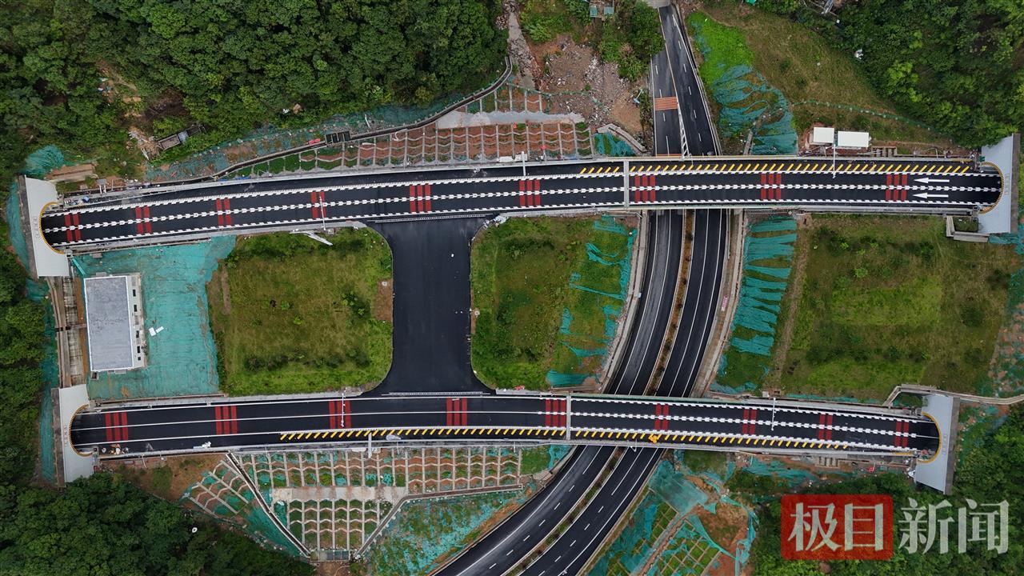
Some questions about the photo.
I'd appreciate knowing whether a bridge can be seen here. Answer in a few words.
Yes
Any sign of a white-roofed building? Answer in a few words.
Yes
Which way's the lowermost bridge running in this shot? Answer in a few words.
from side to side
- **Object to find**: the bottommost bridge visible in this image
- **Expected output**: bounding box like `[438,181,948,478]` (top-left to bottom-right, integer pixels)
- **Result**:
[550,392,734,452]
